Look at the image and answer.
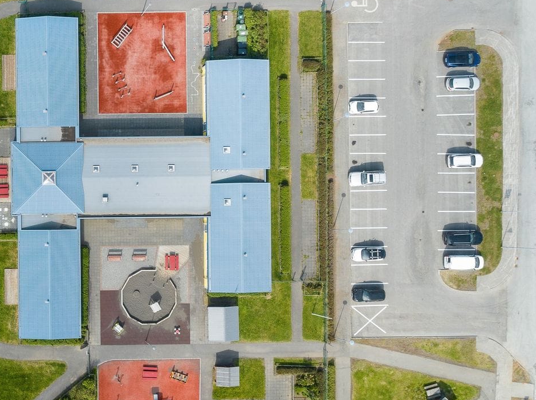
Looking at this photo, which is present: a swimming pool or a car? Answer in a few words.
car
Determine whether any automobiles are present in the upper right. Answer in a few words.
Yes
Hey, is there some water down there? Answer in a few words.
No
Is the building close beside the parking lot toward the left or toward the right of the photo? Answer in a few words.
left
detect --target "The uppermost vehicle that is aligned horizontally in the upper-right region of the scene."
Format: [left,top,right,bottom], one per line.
[442,49,480,67]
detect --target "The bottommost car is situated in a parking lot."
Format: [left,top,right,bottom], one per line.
[351,286,386,303]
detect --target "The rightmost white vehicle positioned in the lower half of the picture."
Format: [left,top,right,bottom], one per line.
[442,254,484,272]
